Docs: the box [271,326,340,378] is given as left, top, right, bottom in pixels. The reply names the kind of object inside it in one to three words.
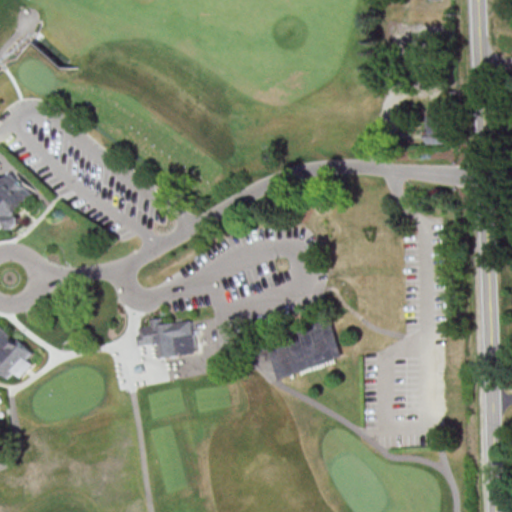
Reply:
barn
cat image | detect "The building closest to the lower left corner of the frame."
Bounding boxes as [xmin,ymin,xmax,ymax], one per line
[0,332,30,380]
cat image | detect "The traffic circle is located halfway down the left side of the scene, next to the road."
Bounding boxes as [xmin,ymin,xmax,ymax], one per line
[0,242,68,322]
